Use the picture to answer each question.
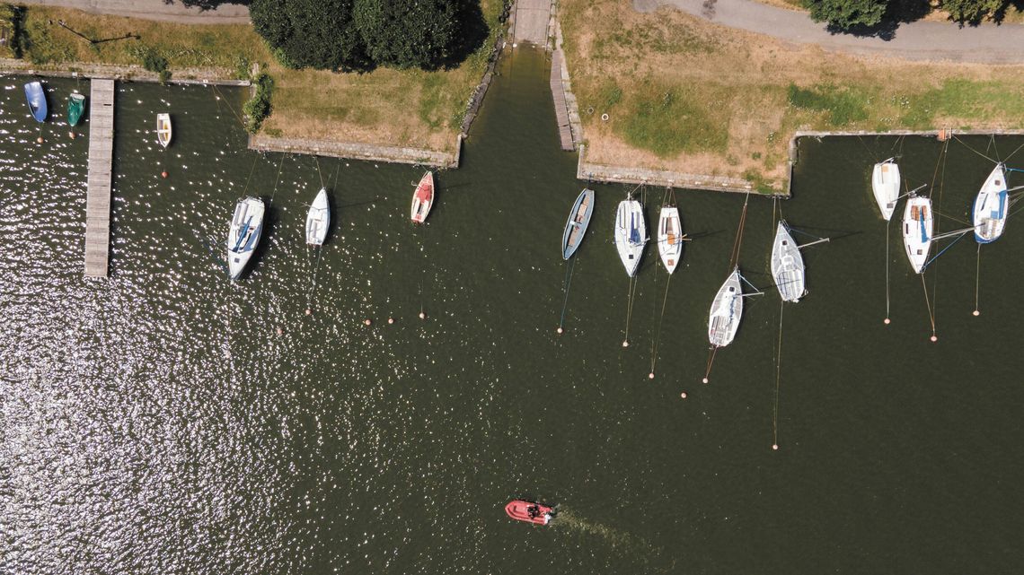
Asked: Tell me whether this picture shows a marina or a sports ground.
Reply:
marina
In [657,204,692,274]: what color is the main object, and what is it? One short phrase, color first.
white boat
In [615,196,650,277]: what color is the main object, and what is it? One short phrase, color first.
white boat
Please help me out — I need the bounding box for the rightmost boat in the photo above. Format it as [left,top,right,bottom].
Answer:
[970,162,1024,242]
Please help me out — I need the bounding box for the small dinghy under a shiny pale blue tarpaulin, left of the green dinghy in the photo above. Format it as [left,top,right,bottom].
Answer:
[24,81,50,123]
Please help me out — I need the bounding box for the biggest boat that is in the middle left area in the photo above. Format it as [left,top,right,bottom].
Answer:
[202,197,266,280]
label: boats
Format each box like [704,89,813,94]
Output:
[708,270,765,346]
[657,204,692,274]
[67,93,87,127]
[504,499,555,526]
[156,112,172,148]
[871,158,927,221]
[302,187,330,248]
[411,171,434,225]
[900,194,975,273]
[24,81,50,123]
[202,197,266,280]
[970,162,1024,242]
[615,196,650,277]
[562,188,595,260]
[770,221,829,304]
